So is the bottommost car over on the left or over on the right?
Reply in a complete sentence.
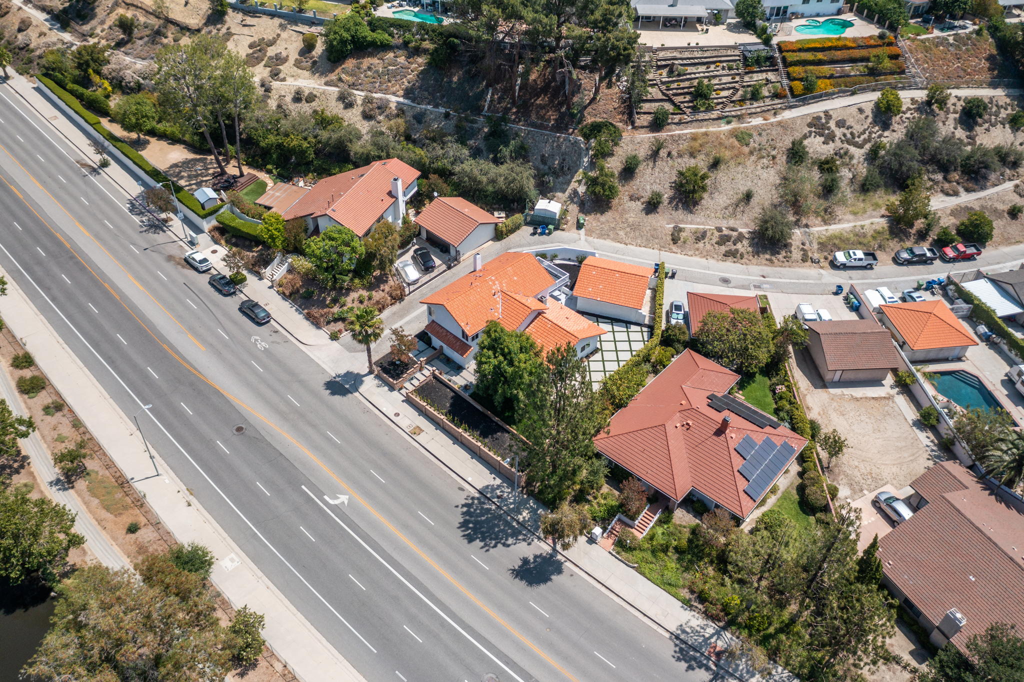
The bottommost car is on the right side of the image.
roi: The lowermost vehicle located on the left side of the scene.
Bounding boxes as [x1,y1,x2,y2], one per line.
[238,299,272,327]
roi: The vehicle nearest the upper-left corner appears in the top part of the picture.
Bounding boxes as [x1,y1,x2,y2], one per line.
[182,250,212,275]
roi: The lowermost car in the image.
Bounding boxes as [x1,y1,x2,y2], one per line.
[875,490,919,528]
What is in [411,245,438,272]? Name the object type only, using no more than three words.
car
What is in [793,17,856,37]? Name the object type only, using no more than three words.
swimming pool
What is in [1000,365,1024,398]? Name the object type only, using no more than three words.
camper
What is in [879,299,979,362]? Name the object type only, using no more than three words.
building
